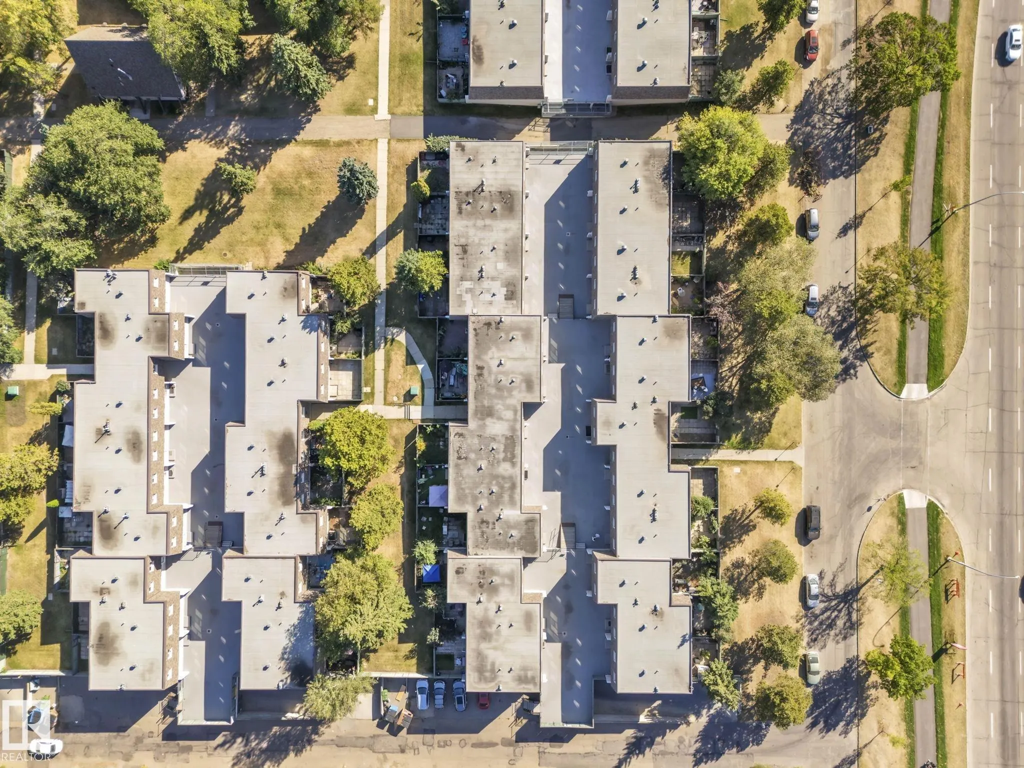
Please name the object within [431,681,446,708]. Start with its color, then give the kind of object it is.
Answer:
blue car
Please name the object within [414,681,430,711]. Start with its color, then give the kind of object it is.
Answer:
blue car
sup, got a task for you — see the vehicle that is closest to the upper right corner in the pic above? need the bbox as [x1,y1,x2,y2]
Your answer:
[1003,26,1024,63]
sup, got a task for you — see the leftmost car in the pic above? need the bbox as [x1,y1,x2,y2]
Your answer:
[30,737,65,755]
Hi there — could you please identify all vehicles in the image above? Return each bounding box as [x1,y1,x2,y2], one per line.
[804,650,822,684]
[30,737,65,755]
[803,29,821,63]
[804,0,821,27]
[477,693,490,711]
[804,574,821,607]
[414,681,430,711]
[804,505,823,539]
[1003,26,1024,63]
[452,681,468,712]
[804,208,822,242]
[804,284,821,316]
[431,681,446,708]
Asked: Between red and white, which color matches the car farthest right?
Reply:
white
